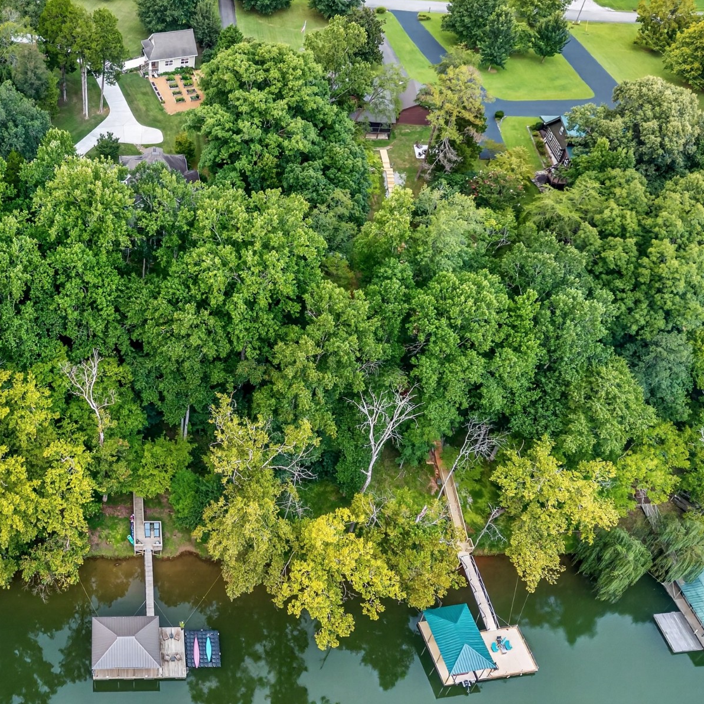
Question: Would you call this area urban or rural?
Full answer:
The area shown here is rural.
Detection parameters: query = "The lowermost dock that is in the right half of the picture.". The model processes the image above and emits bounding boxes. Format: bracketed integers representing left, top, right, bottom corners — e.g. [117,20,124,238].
[421,604,541,685]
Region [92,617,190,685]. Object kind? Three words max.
pier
